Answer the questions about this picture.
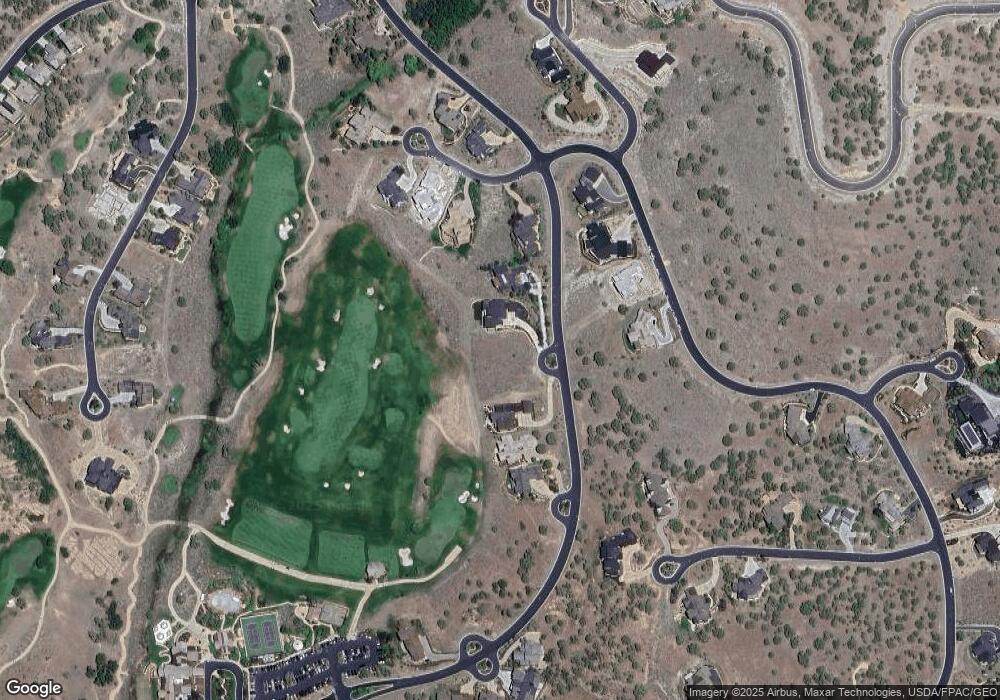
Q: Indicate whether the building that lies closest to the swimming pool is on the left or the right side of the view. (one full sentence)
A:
The building that lies closest to the swimming pool sits on the left side.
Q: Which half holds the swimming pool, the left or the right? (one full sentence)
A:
The swimming pool sits on the left side.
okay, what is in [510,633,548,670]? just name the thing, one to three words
house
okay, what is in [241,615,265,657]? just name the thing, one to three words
tennis court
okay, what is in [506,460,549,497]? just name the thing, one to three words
house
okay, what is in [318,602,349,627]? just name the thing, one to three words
building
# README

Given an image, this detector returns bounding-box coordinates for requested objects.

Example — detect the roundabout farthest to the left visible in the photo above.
[80,374,110,420]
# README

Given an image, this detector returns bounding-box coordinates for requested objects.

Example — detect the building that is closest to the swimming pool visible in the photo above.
[214,632,233,651]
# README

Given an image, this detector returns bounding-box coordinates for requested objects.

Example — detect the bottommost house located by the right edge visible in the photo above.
[966,630,1000,666]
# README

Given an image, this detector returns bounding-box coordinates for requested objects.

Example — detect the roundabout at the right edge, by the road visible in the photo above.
[928,350,966,381]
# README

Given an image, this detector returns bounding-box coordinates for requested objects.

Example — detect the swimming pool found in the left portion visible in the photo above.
[200,589,244,616]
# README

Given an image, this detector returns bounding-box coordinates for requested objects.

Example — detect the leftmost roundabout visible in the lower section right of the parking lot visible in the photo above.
[457,634,503,680]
